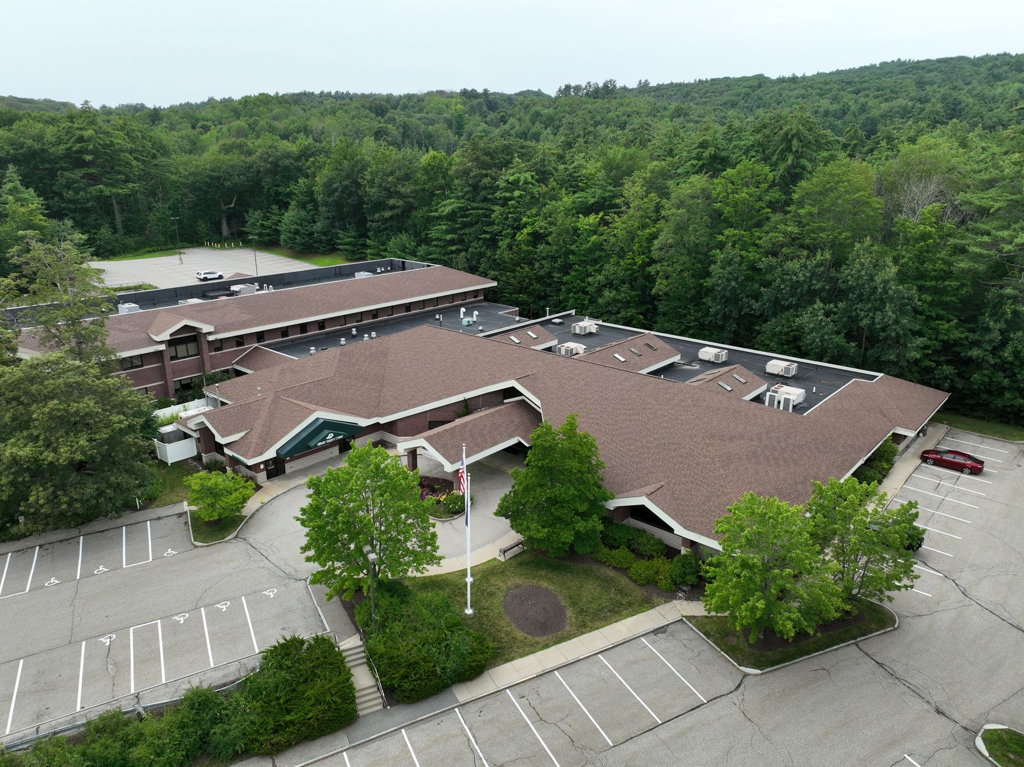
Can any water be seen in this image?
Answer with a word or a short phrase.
No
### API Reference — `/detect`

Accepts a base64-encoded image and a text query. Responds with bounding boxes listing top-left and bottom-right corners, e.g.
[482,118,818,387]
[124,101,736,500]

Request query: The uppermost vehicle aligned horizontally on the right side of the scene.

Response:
[919,449,987,475]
